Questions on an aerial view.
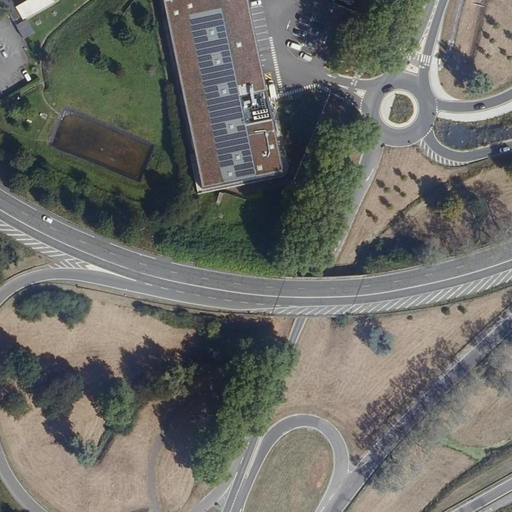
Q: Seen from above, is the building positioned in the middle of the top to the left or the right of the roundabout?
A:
on its left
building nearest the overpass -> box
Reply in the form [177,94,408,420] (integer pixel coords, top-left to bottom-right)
[164,0,284,194]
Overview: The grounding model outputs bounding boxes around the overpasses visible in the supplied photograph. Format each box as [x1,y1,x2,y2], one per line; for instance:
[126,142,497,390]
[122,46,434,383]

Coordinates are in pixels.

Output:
[272,274,364,318]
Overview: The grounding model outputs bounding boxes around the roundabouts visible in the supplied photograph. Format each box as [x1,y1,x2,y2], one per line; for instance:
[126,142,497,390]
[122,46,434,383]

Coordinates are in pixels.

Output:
[363,72,436,146]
